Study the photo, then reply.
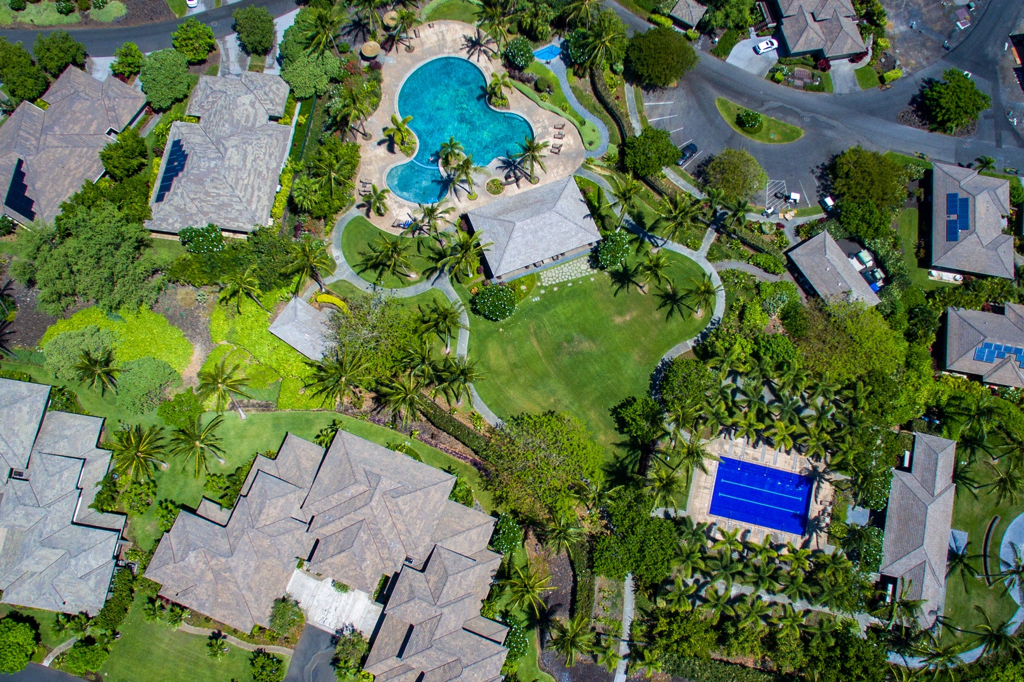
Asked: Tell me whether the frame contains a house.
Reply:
Yes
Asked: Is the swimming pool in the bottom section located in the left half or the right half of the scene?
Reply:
right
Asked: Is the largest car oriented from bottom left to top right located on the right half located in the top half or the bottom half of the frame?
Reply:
top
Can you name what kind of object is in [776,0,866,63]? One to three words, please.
house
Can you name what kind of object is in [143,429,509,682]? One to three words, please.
house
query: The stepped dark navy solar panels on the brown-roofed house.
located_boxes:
[4,158,36,221]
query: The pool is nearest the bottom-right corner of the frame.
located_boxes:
[707,454,816,539]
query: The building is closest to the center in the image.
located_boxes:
[466,175,603,284]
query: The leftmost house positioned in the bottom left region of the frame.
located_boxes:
[0,377,129,618]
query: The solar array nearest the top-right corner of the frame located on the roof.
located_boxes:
[947,193,970,241]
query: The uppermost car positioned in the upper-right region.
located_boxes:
[754,37,780,51]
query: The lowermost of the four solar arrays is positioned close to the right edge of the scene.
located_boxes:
[974,342,1024,368]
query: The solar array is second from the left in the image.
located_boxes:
[155,140,191,202]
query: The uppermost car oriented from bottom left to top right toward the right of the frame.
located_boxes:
[678,142,698,164]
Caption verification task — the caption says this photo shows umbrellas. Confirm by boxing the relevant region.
[362,42,380,57]
[383,12,397,28]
